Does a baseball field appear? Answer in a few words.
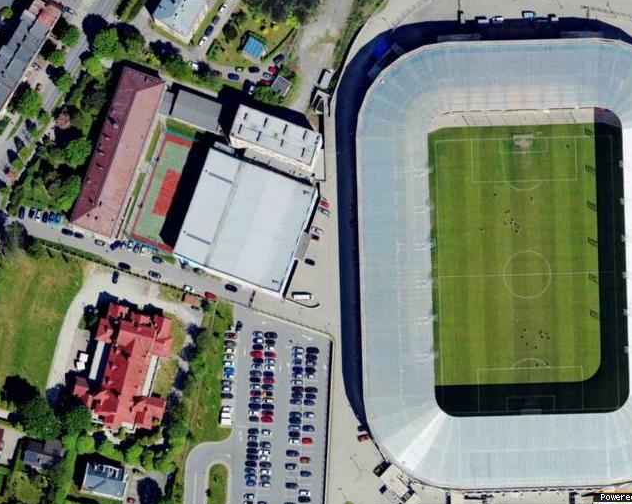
No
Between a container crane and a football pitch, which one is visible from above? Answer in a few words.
football pitch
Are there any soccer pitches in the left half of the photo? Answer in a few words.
No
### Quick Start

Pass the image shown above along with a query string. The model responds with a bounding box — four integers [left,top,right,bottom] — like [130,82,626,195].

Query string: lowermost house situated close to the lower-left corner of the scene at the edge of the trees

[81,462,127,501]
